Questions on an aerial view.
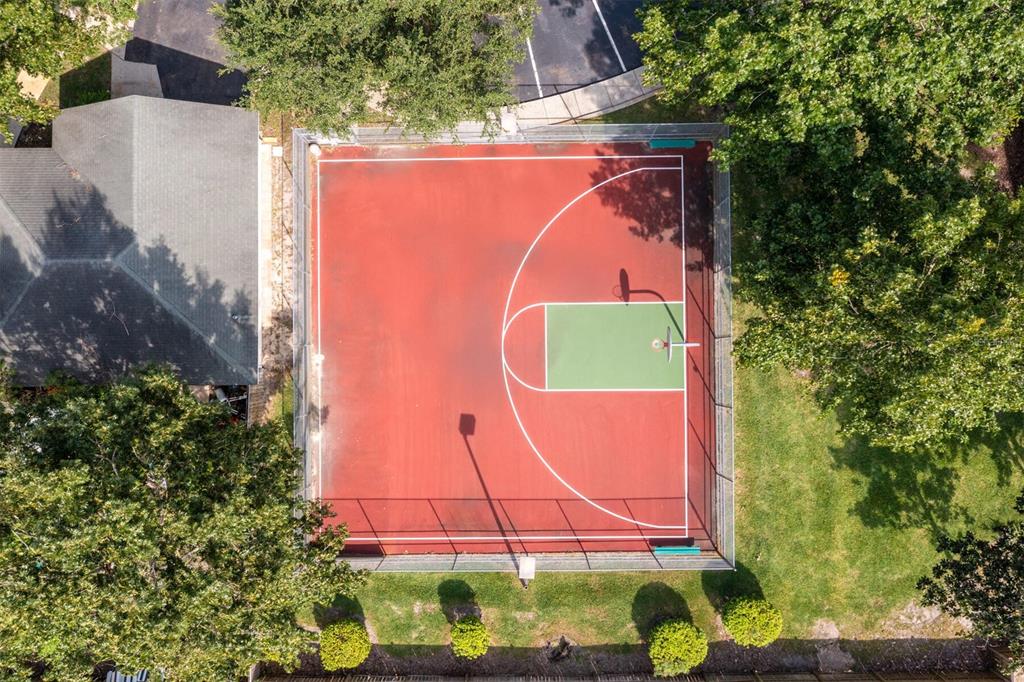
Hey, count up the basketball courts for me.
1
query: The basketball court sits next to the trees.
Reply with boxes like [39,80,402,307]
[306,136,723,560]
